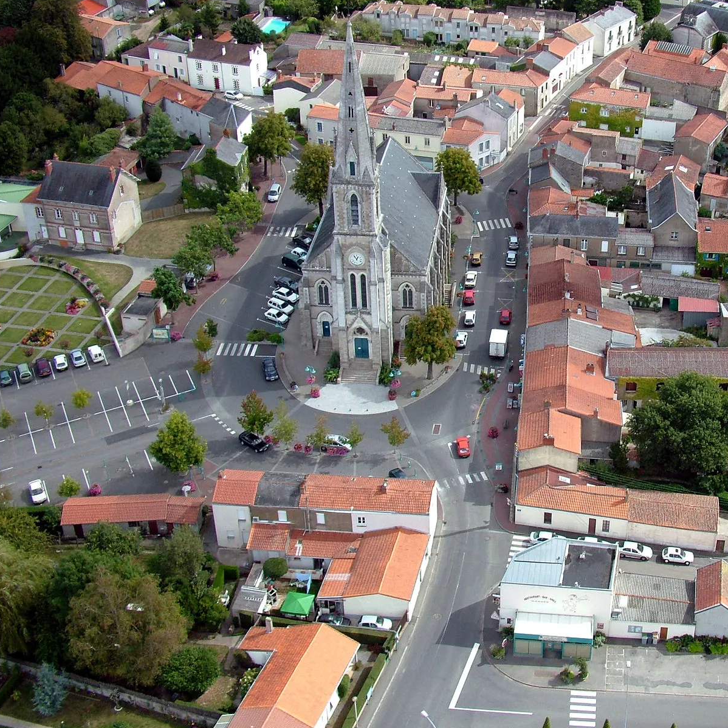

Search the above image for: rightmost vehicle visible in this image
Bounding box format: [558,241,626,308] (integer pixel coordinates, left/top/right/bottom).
[661,547,694,566]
